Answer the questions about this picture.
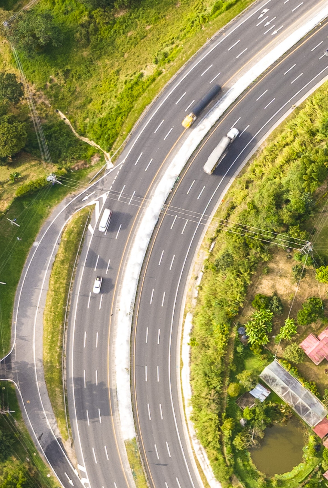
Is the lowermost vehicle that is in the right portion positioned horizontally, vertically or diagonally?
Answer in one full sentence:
The lowermost vehicle that is in the right portion runs diagonally in the image.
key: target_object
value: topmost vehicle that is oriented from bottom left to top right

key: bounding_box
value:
[185,86,222,129]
